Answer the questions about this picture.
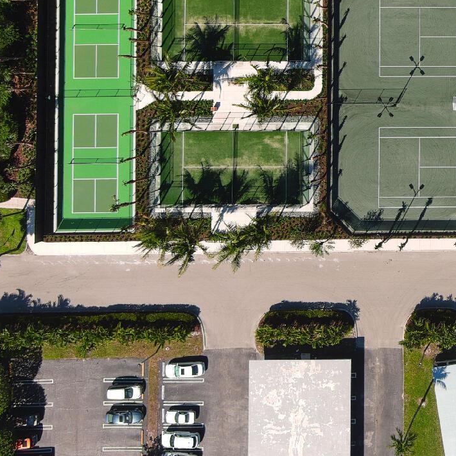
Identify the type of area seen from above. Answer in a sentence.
This looks like a sports ground.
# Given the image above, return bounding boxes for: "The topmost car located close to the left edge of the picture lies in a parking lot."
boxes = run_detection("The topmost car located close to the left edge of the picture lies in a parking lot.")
[10,413,46,431]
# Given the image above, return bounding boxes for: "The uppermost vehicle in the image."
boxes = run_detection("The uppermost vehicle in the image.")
[168,361,207,379]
